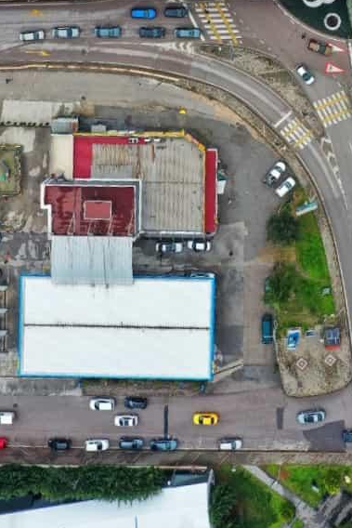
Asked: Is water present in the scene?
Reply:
No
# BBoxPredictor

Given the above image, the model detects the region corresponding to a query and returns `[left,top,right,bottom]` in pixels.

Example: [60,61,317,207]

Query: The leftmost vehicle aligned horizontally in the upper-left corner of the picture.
[20,29,45,42]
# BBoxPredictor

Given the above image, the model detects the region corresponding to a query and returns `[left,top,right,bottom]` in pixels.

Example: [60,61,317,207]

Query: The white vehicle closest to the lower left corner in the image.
[0,407,17,422]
